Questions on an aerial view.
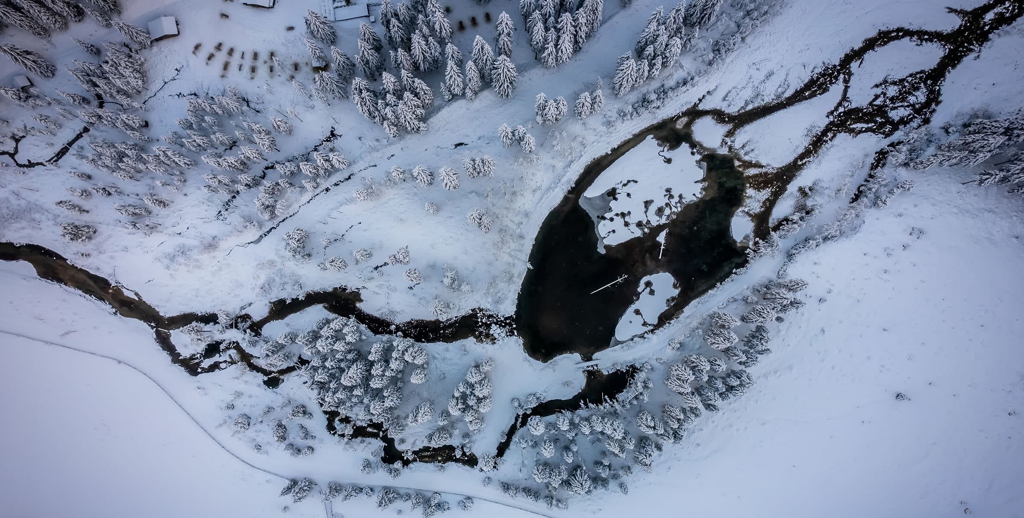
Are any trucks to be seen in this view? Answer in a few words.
No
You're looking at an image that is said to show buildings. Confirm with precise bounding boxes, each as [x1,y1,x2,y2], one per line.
[151,16,182,41]
[334,3,368,22]
[246,0,272,10]
[312,57,328,70]
[13,74,38,92]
